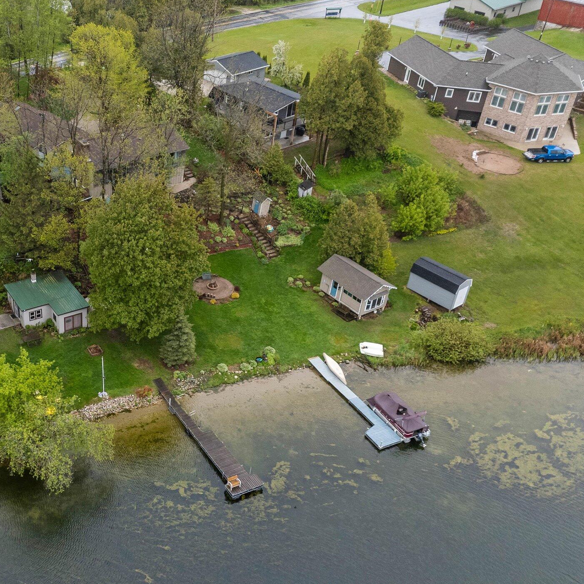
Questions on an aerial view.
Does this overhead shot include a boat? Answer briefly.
Yes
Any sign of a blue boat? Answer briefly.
No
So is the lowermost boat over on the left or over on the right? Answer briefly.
right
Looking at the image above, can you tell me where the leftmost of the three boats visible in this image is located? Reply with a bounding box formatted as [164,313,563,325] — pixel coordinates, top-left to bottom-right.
[324,353,346,385]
